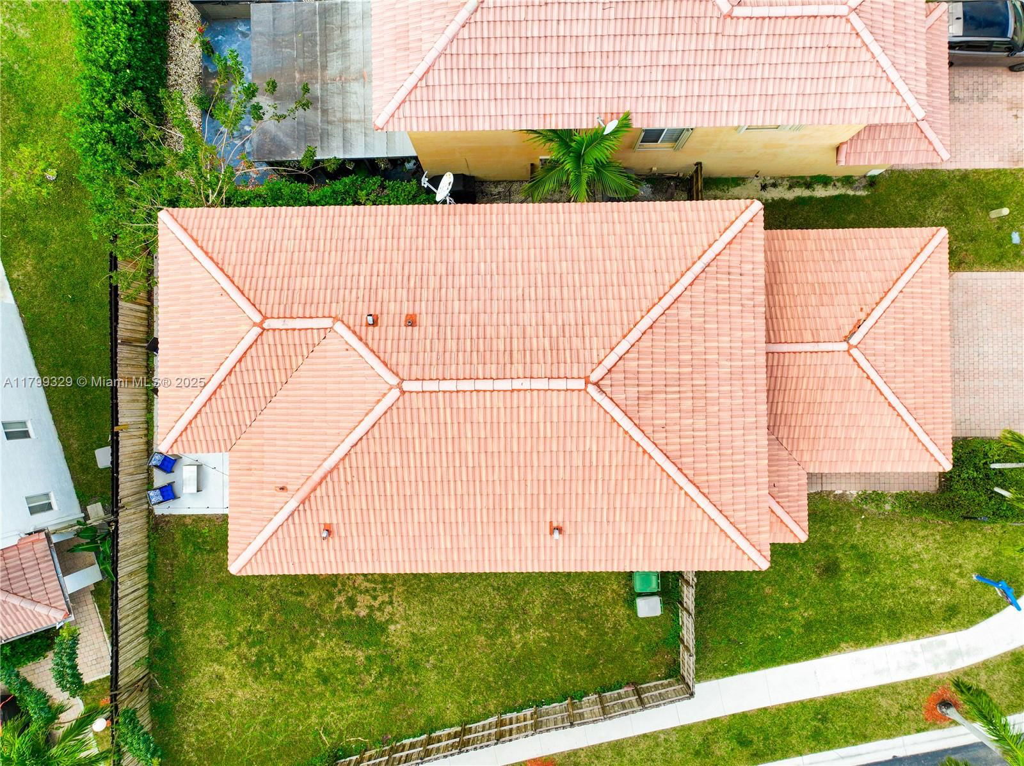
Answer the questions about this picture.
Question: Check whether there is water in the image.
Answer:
No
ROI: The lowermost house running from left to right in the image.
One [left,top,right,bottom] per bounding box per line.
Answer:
[146,194,958,580]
